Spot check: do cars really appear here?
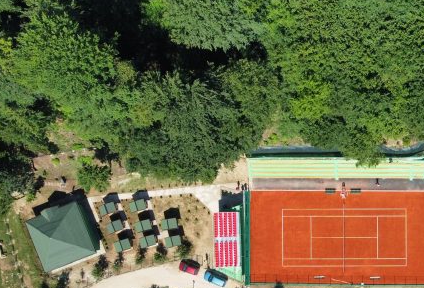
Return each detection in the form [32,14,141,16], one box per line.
[179,261,201,275]
[204,271,229,286]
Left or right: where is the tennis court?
right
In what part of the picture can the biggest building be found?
bottom left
